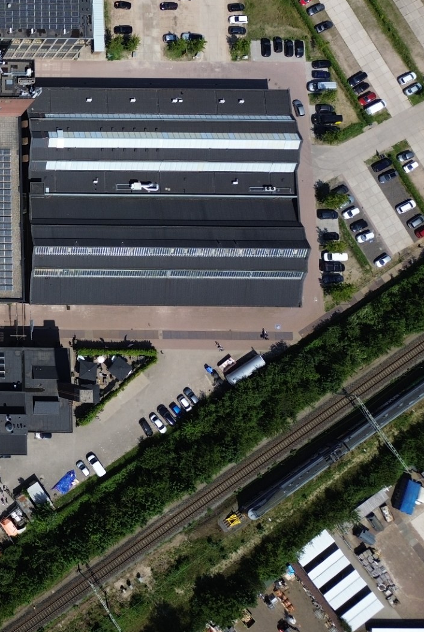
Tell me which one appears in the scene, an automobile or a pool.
automobile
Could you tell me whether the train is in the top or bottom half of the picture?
bottom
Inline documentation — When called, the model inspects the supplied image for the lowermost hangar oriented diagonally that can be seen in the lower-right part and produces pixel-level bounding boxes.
[292,526,384,632]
